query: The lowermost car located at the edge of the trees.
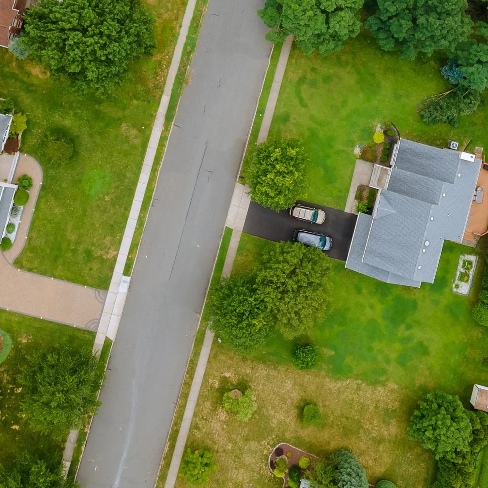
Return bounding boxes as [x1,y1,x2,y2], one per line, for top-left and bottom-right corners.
[292,228,333,252]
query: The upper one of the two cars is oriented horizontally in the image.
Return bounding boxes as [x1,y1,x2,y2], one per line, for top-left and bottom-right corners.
[288,204,326,226]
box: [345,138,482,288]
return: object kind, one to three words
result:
house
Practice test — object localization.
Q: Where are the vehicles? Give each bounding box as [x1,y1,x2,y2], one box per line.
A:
[288,204,326,226]
[292,228,333,252]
